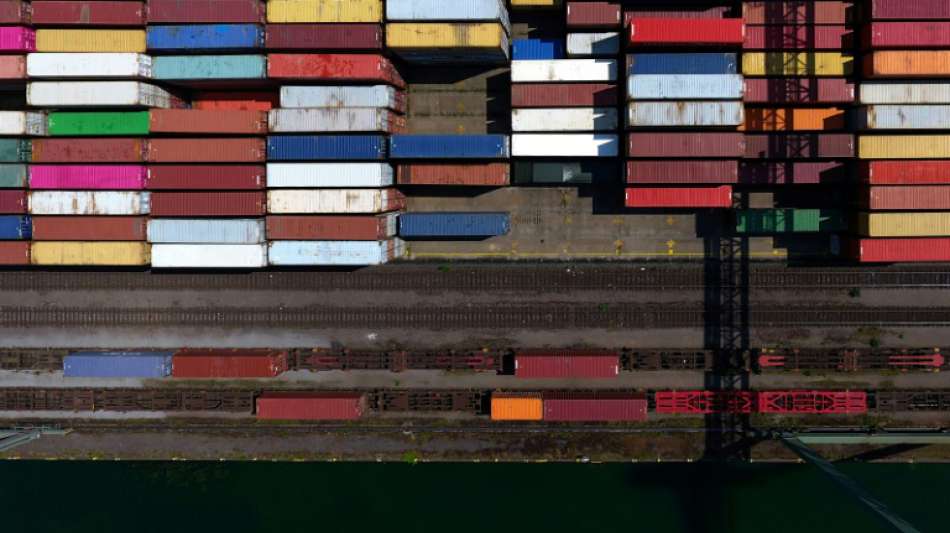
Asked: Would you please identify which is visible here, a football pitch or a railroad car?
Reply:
railroad car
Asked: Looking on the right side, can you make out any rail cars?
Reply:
Yes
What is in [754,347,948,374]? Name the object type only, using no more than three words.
rail car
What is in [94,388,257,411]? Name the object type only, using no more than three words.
rail car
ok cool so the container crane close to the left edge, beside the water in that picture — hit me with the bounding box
[0,427,58,454]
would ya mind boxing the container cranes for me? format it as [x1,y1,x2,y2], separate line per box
[0,427,58,454]
[758,429,950,533]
